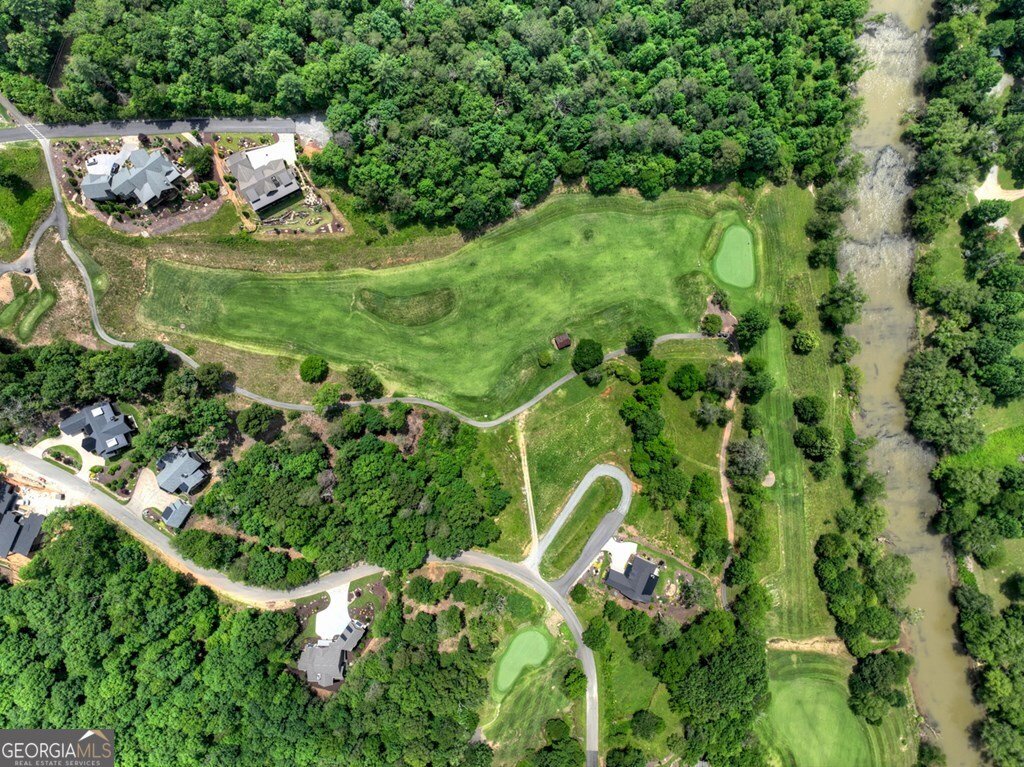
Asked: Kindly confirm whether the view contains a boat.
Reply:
No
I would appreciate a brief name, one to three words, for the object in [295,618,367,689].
house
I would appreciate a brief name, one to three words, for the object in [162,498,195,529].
building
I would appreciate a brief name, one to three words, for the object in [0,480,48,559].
house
